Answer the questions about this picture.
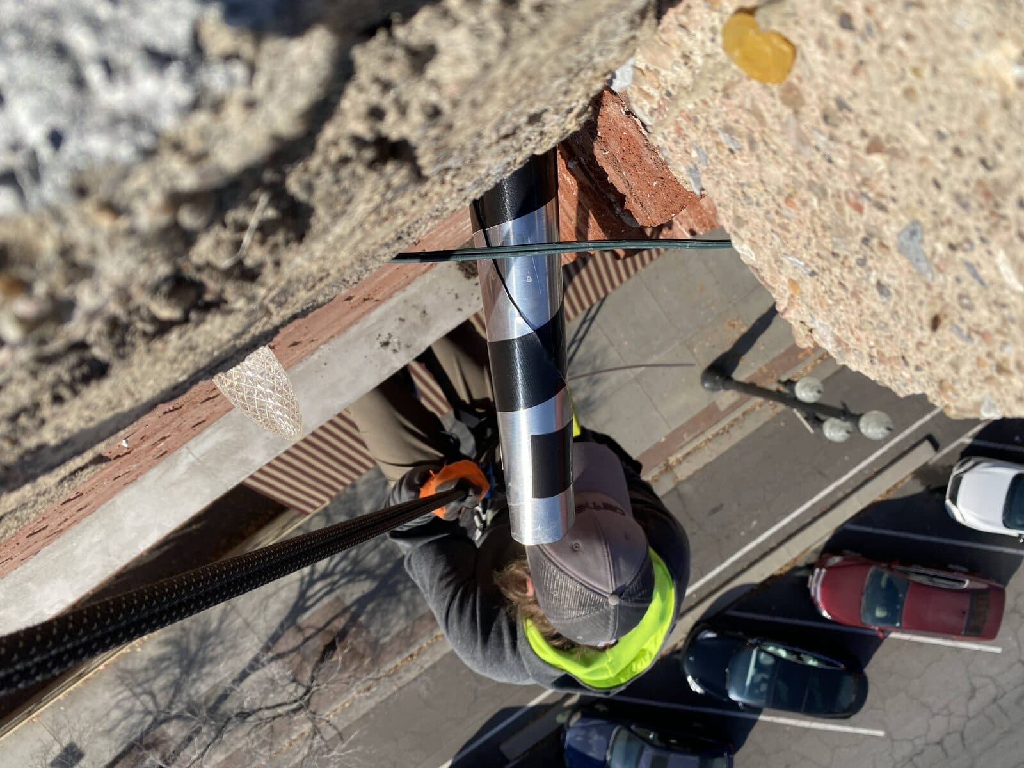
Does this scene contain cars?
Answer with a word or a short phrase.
Yes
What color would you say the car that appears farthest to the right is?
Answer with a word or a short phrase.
white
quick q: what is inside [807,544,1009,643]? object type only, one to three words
car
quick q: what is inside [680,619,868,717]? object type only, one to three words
car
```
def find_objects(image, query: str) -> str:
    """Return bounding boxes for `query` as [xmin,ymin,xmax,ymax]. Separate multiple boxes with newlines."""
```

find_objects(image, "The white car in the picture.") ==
[940,466,1024,560]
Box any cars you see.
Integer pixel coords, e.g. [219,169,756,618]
[559,705,735,768]
[940,466,1024,560]
[680,619,868,717]
[807,544,1009,643]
